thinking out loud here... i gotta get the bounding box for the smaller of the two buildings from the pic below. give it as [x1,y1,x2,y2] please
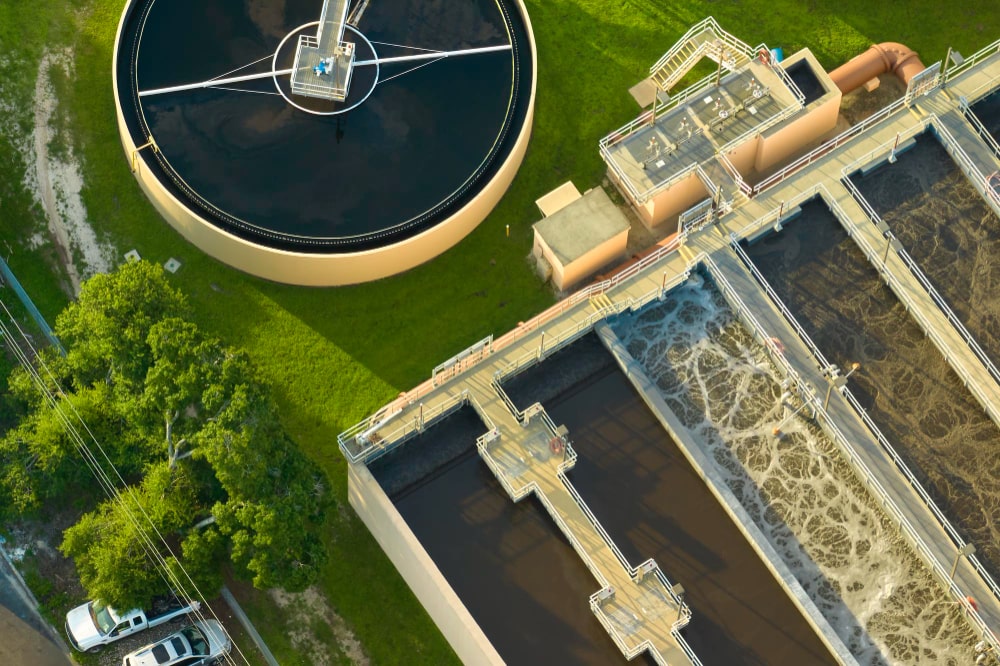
[532,180,631,287]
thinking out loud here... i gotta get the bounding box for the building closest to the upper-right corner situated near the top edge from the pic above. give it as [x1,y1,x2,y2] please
[598,15,841,230]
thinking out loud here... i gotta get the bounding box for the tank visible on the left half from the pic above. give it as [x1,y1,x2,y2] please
[113,0,537,285]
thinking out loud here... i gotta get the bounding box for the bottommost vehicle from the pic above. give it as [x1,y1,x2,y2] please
[123,618,236,666]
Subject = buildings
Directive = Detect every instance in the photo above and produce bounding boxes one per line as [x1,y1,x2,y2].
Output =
[532,180,631,287]
[598,15,841,230]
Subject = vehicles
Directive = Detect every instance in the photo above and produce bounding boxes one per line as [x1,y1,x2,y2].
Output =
[123,618,236,666]
[63,567,207,656]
